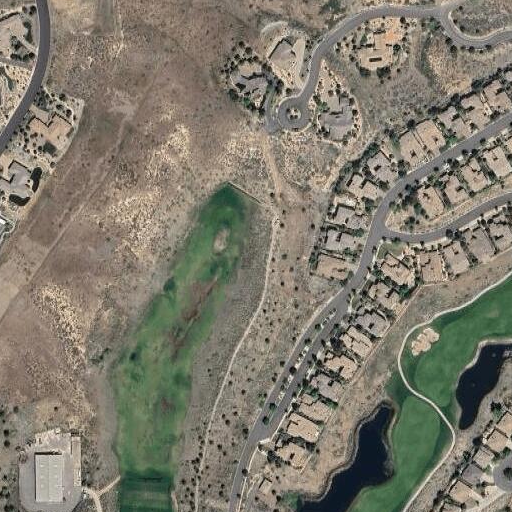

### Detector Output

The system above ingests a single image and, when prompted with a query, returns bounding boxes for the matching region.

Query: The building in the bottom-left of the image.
[36,455,63,502]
